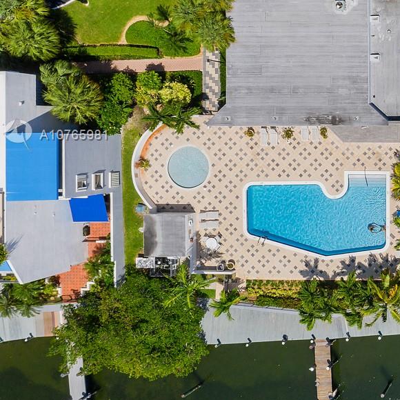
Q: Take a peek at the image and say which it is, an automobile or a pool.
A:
pool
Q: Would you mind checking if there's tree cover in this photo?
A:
Yes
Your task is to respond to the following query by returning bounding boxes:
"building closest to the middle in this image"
[143,212,201,259]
